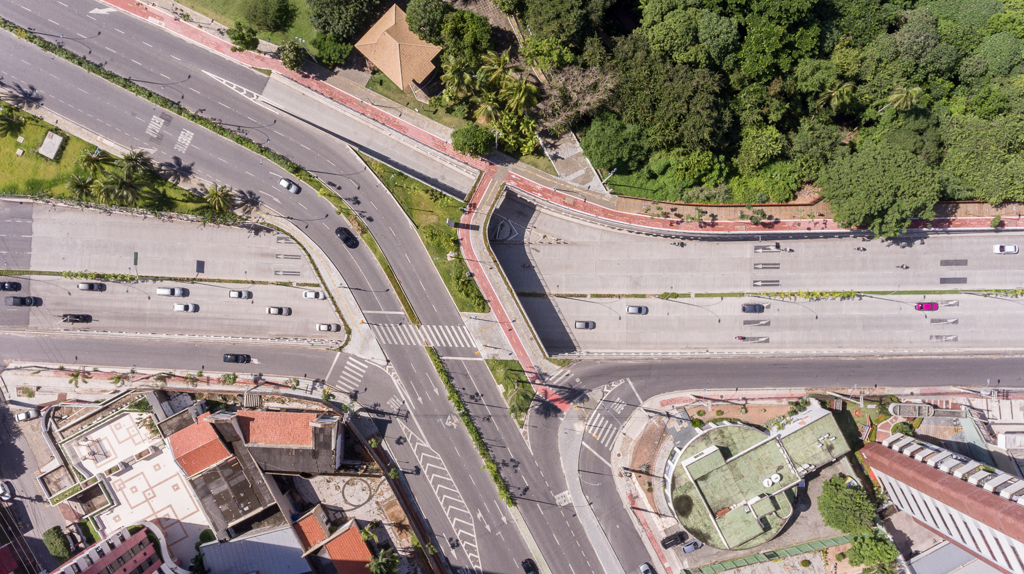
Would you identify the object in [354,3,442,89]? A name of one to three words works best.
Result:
building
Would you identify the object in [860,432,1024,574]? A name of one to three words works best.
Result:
building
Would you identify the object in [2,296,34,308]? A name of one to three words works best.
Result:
vehicle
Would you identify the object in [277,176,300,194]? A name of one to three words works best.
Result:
car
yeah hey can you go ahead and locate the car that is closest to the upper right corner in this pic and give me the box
[992,243,1019,255]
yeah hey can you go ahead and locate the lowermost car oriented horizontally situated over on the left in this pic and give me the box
[13,409,40,422]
